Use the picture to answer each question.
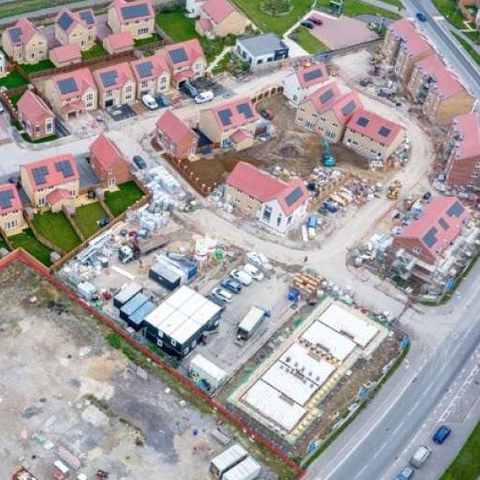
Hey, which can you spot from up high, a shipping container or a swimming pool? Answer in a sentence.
This aerial view contains a shipping container.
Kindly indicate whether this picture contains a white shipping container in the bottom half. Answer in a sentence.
Yes, a white shipping container can be seen in the bottom half.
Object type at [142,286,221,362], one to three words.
building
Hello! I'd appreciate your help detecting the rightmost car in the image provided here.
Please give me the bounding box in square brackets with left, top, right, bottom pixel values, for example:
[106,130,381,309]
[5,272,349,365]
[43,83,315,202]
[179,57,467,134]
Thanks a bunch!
[433,422,452,442]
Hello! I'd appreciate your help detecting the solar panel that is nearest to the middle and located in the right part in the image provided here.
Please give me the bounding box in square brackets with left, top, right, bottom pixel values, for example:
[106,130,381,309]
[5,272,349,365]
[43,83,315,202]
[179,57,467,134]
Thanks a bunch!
[285,184,308,207]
